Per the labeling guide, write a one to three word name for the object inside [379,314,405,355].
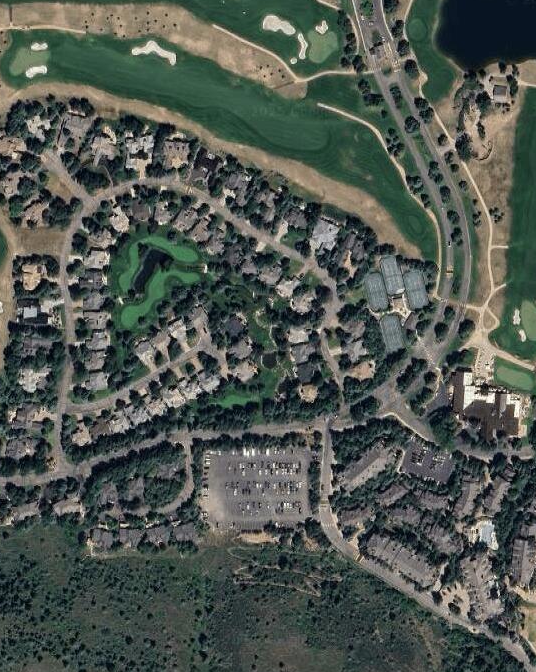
tennis court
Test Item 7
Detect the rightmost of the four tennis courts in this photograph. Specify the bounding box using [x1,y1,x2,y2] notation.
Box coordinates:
[402,270,430,312]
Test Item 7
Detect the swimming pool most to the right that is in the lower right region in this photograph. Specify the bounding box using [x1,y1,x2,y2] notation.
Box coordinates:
[470,520,499,551]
